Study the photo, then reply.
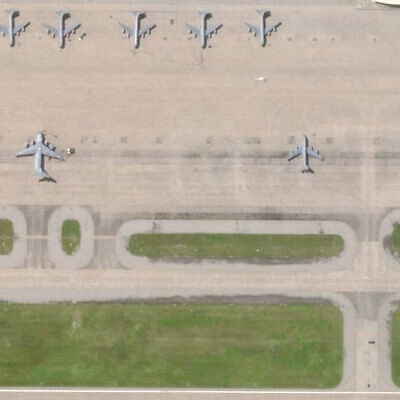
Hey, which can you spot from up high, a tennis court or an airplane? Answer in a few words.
airplane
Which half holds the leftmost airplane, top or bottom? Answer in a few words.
top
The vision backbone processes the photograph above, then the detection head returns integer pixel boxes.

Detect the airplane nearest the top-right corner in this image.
[244,9,281,47]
